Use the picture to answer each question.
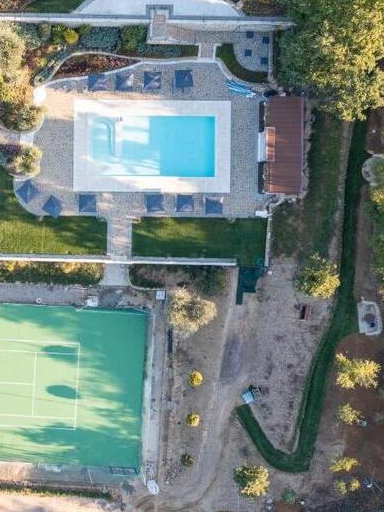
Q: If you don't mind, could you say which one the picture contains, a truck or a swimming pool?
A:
swimming pool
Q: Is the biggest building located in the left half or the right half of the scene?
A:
right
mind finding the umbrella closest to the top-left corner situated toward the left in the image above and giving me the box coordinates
[86,72,105,91]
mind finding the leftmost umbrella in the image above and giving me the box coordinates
[14,178,40,204]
